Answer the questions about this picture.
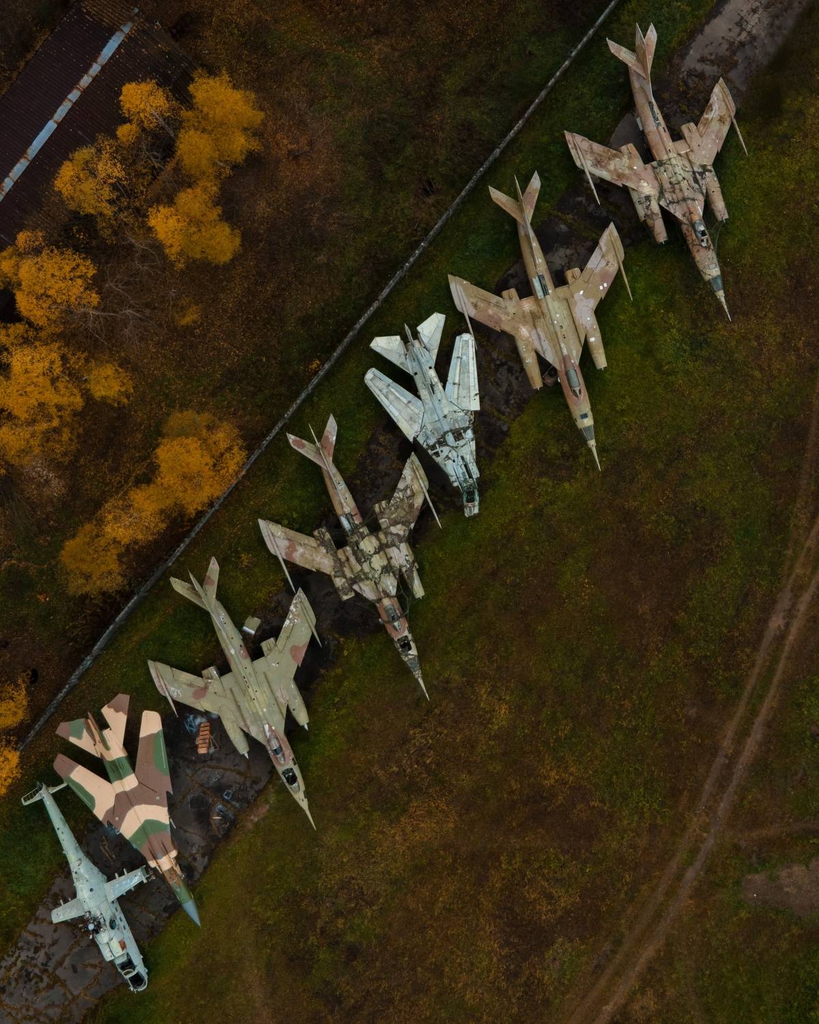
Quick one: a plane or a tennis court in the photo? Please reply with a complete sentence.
I can see a plane in this picture.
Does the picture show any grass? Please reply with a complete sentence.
Yes, grass can be seen from above here.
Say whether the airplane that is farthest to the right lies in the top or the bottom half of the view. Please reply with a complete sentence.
The top half of the photo is where the airplane that is farthest to the right is.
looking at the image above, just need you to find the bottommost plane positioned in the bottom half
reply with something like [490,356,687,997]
[54,693,201,927]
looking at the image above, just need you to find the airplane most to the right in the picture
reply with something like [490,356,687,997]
[564,19,751,320]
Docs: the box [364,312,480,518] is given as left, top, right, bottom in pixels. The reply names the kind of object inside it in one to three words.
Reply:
airplane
